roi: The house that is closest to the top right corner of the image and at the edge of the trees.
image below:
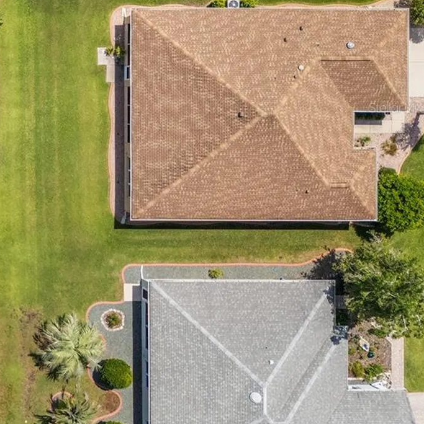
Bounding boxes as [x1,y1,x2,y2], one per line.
[125,5,411,222]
